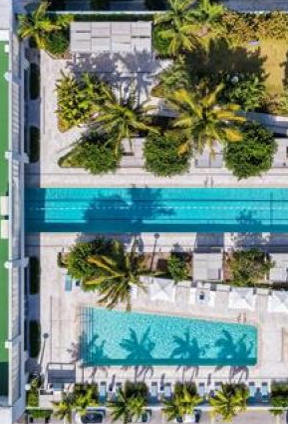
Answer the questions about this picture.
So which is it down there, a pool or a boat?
pool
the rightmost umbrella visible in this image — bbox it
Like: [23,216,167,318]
[269,290,288,314]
